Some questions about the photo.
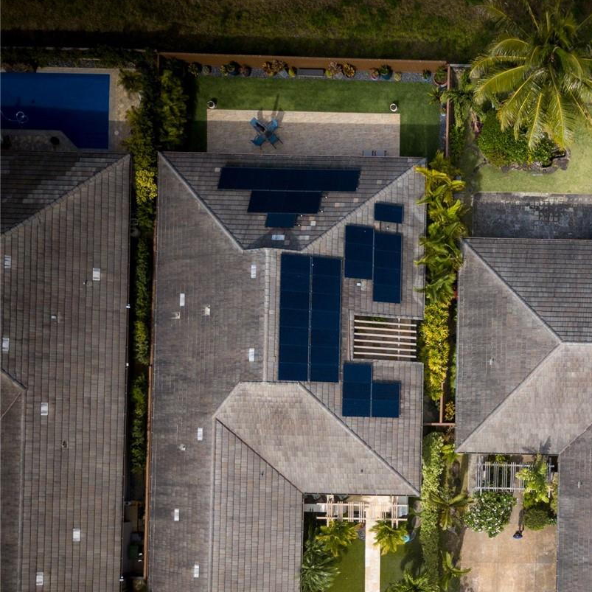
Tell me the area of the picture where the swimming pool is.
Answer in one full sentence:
The swimming pool sits in the top left section of the image.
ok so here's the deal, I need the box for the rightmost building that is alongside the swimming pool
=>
[149,152,430,592]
